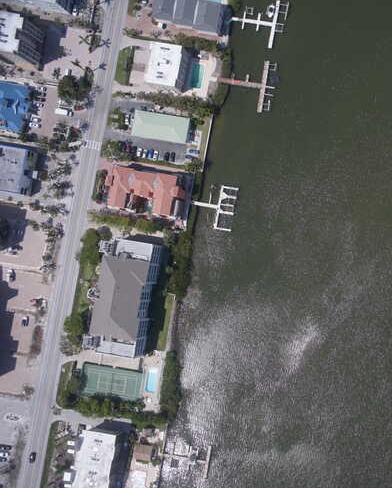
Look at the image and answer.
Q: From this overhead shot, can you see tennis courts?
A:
Yes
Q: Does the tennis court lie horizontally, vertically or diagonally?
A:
horizontally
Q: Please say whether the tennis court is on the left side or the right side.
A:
left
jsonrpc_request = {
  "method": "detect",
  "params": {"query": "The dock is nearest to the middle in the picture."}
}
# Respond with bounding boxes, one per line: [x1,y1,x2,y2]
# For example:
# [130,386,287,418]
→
[196,184,240,232]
